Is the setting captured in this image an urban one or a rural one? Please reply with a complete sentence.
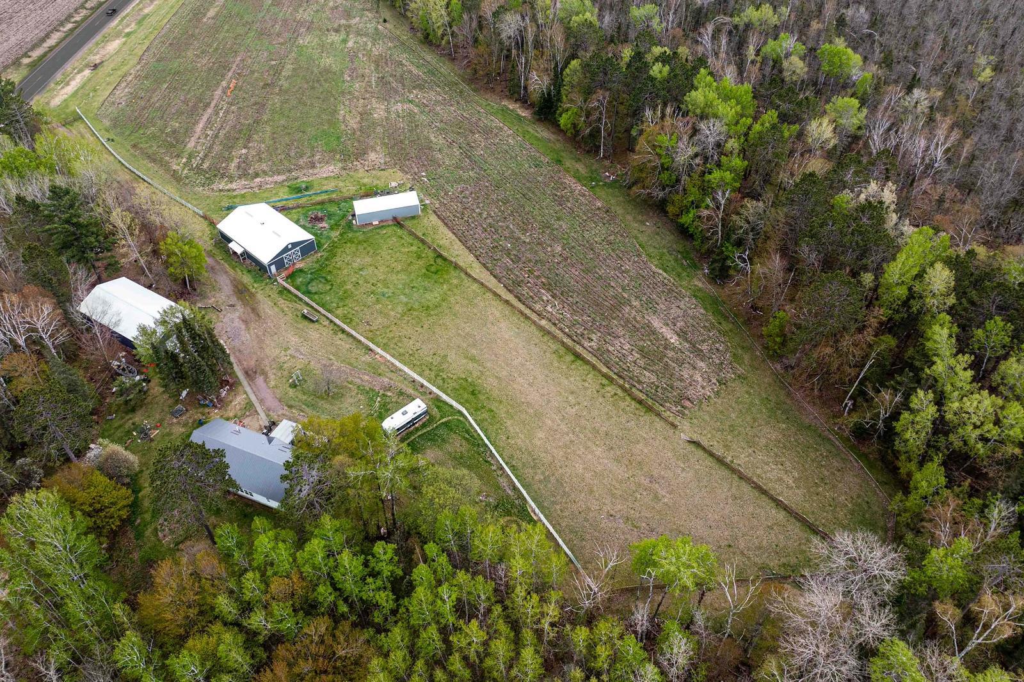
The area shown here is rural.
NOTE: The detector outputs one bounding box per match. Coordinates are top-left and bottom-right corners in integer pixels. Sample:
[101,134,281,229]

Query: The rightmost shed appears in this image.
[352,189,420,223]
